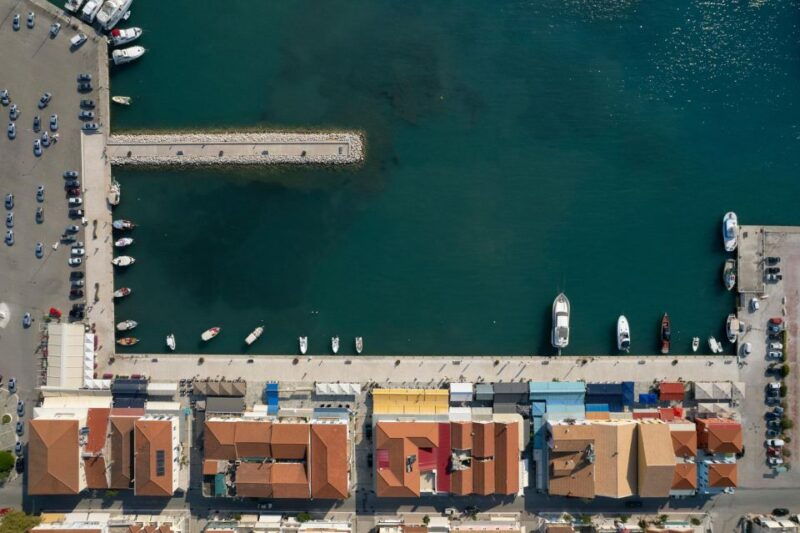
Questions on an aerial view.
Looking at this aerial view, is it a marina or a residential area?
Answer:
marina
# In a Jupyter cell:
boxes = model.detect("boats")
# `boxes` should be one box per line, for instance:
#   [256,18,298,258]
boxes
[113,238,134,246]
[616,315,630,356]
[78,0,102,27]
[114,288,132,296]
[198,327,220,343]
[115,336,140,345]
[332,334,339,353]
[109,46,147,65]
[114,320,139,332]
[105,27,144,48]
[94,0,131,34]
[722,259,736,292]
[110,220,134,231]
[61,0,86,17]
[705,334,717,352]
[724,313,740,343]
[243,325,263,347]
[550,293,570,357]
[692,335,698,351]
[113,255,137,266]
[355,334,362,353]
[166,333,175,350]
[299,334,306,353]
[122,9,130,20]
[721,212,739,252]
[108,177,121,206]
[112,97,132,103]
[659,312,670,353]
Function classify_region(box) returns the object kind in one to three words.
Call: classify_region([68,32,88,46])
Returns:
vehicle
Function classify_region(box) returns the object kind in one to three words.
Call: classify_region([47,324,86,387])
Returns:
tent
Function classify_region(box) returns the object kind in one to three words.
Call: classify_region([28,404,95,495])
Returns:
building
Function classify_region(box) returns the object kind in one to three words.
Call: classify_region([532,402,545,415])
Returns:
umbrella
